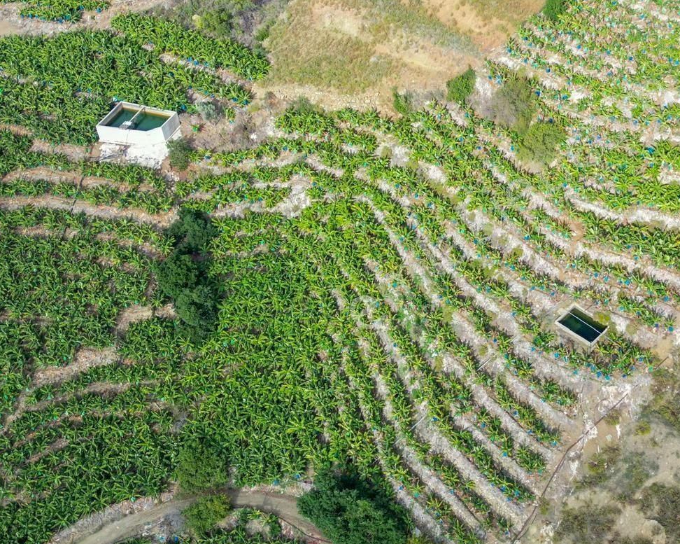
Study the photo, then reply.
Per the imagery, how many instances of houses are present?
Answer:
none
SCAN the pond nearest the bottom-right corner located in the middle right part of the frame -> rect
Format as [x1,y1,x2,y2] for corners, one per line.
[554,304,623,352]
